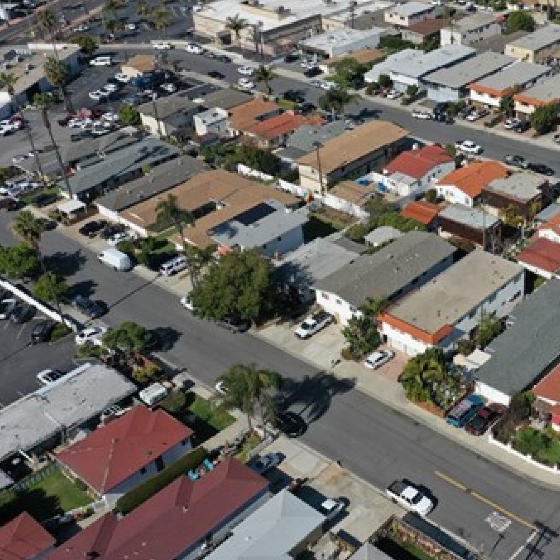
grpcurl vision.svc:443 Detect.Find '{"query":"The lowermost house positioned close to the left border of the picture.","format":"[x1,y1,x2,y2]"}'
[0,510,57,560]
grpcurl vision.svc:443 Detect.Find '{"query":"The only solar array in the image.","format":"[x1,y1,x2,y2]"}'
[234,205,275,225]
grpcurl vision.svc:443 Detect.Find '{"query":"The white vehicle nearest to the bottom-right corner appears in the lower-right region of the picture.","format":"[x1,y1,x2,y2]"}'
[384,476,435,515]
